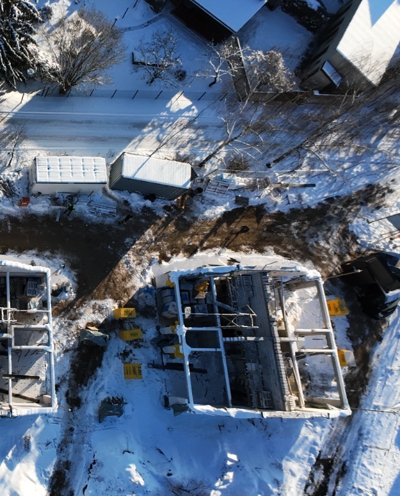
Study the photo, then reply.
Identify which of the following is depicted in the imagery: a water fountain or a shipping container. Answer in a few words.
shipping container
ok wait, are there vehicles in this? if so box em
[363,246,400,287]
[331,255,400,323]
